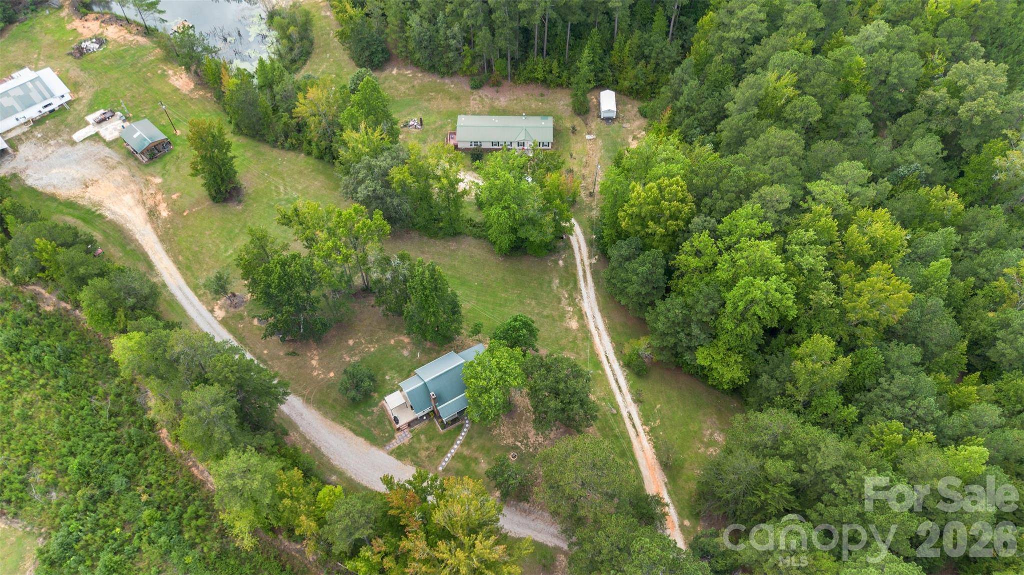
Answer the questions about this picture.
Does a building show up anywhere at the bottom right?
No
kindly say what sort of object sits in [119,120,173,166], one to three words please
building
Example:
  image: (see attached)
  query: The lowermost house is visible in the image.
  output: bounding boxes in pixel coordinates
[381,344,489,432]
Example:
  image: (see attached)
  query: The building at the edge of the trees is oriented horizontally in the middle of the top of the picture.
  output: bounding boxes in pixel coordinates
[444,113,552,160]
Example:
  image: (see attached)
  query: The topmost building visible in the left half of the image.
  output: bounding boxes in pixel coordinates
[0,68,72,134]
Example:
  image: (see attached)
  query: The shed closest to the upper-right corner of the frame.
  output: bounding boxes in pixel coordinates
[597,86,618,119]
